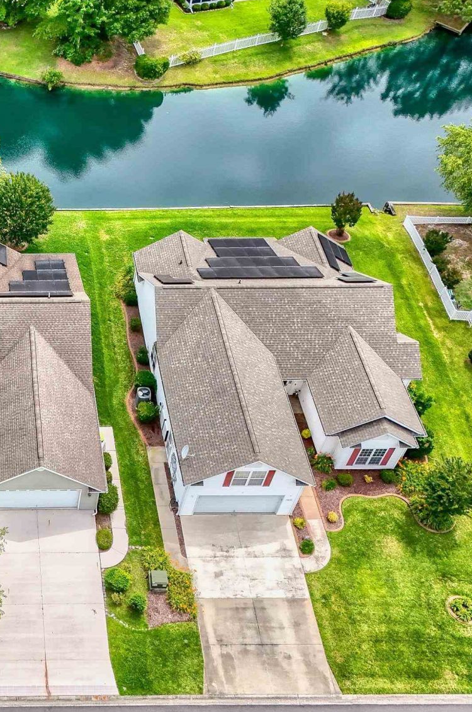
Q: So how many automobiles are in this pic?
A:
0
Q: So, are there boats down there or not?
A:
No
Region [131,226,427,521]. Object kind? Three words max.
house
